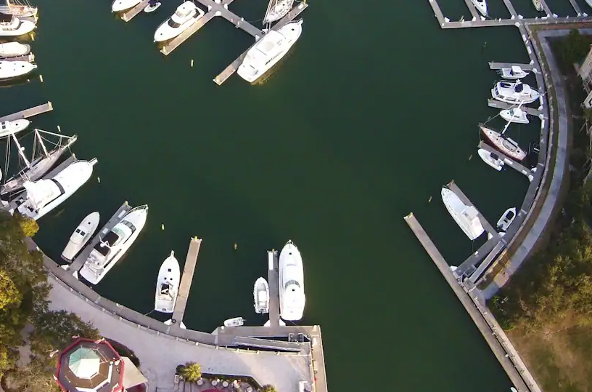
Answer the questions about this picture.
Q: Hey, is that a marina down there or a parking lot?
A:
marina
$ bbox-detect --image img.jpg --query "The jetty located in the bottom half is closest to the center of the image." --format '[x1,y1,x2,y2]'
[260,251,289,327]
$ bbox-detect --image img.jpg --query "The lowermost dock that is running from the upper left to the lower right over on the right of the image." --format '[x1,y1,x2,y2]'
[403,215,531,392]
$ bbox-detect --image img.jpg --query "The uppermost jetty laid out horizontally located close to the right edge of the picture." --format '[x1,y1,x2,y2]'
[438,15,592,32]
